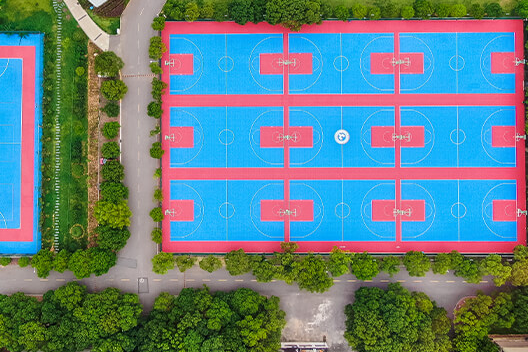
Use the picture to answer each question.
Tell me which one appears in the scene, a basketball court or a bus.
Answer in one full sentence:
The image shows a basketball court.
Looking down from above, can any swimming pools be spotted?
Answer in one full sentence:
No, I can't see a single swimming pool in this photo.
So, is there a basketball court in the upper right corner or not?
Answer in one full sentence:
Yes, in the upper right corner there is a basketball court.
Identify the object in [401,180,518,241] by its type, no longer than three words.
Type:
basketball court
